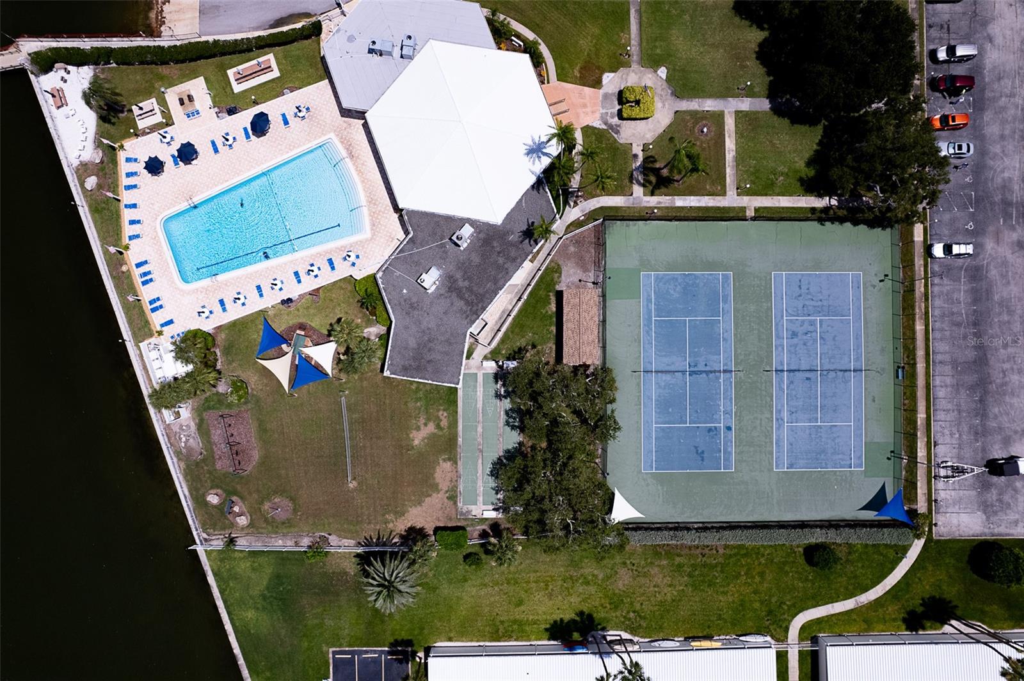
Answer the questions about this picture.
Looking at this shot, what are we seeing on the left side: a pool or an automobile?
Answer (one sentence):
The feature located on the left side is a pool.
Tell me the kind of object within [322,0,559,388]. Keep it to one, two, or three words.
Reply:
building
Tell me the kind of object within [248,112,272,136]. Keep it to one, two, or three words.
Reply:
umbrella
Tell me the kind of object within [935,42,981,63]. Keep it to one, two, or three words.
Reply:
car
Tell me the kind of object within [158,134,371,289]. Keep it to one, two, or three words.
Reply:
swimming pool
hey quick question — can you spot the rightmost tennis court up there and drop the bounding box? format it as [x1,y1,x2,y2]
[764,272,877,471]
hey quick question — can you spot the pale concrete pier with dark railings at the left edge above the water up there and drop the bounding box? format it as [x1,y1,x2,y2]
[0,47,29,71]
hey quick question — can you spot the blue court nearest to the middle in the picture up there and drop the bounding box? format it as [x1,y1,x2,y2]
[632,272,745,473]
